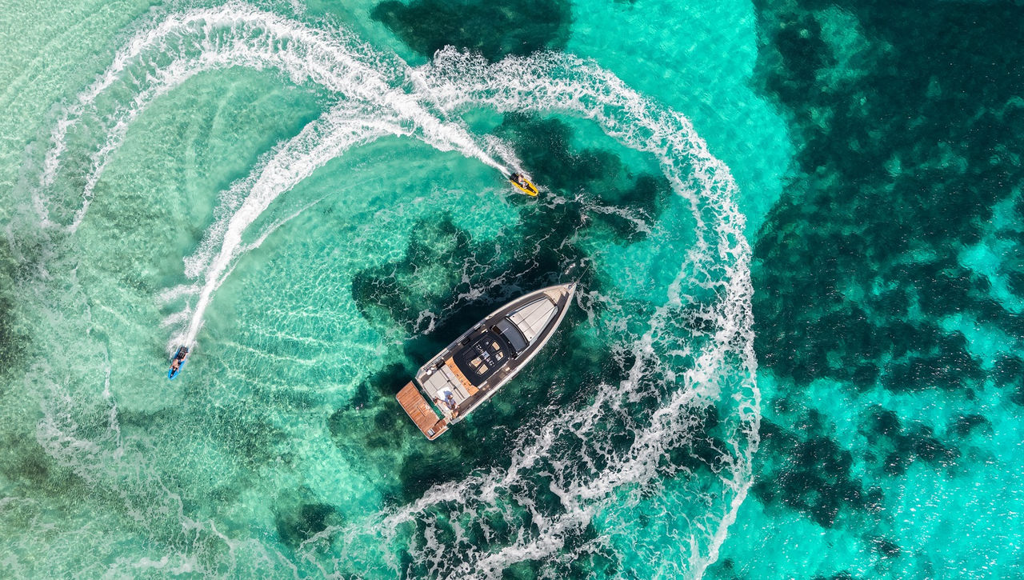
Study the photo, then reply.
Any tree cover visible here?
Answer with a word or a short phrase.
No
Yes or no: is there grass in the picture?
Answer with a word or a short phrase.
No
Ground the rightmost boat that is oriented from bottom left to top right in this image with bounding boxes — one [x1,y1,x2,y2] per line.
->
[398,267,586,437]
